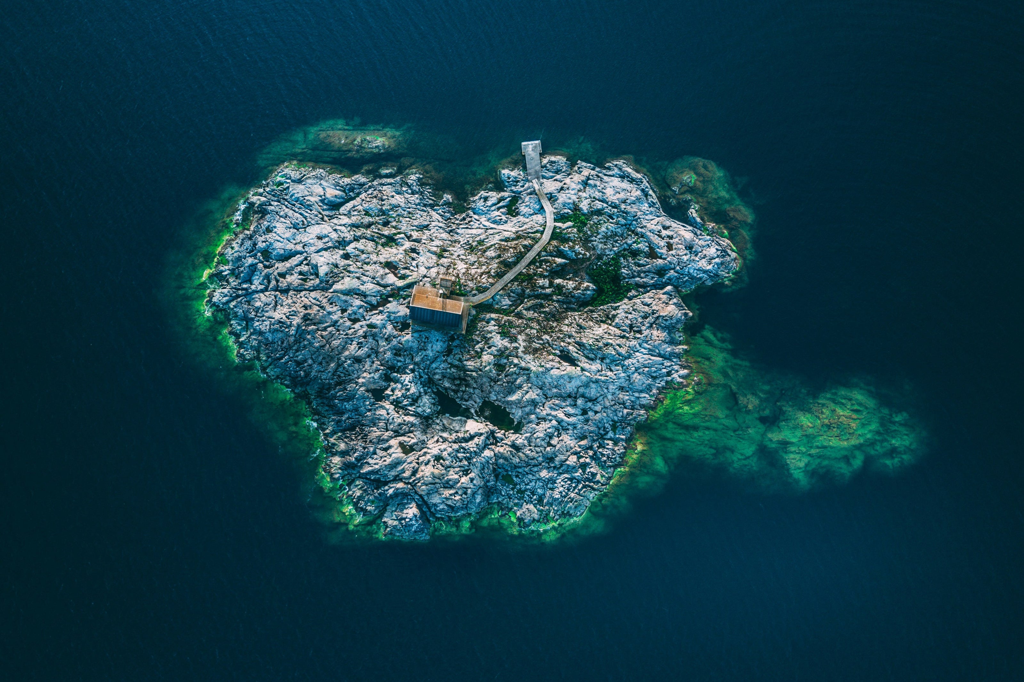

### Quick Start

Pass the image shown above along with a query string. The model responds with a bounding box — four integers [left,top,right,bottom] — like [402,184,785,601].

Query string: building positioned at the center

[409,285,464,328]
